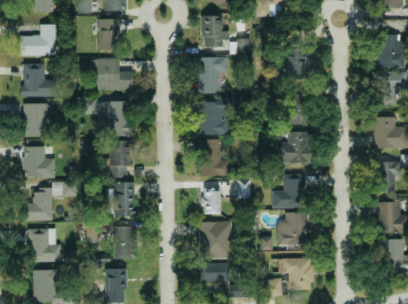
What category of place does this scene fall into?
residential area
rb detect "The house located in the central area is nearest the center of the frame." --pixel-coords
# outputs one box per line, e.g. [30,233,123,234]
[202,140,229,176]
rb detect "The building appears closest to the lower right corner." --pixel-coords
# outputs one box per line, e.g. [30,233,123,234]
[388,240,408,266]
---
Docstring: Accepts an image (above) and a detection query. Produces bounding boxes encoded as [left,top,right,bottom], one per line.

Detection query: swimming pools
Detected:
[262,212,280,229]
